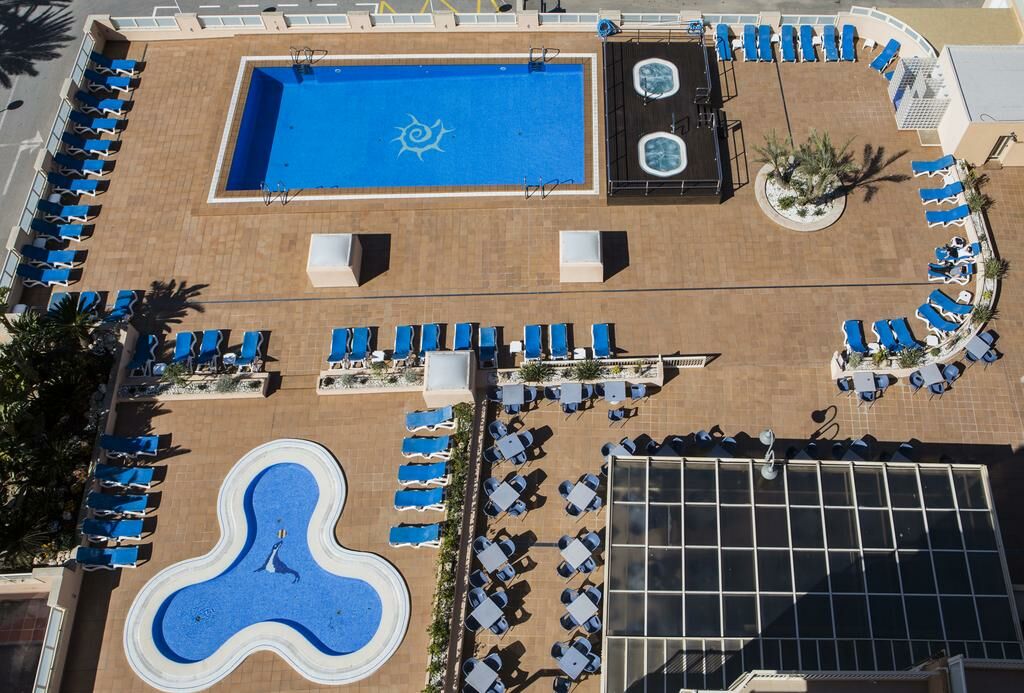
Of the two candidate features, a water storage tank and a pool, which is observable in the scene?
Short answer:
pool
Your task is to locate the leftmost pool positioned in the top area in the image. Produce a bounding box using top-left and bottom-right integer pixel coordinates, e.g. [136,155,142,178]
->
[208,52,600,203]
